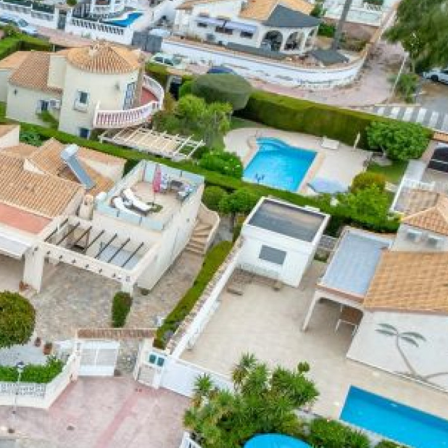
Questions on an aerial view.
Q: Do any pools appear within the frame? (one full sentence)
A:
Yes, the frame does contain a pool.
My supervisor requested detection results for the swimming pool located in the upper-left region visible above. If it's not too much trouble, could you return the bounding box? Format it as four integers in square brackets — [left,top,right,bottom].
[103,12,139,29]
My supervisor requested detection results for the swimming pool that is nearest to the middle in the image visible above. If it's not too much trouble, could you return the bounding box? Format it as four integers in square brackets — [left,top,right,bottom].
[234,133,325,194]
